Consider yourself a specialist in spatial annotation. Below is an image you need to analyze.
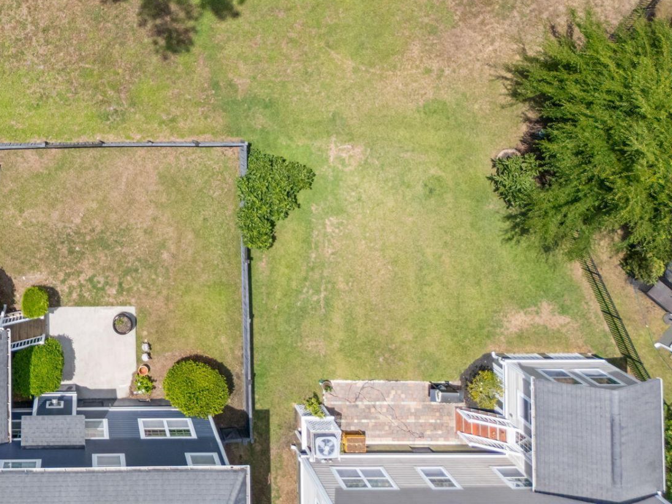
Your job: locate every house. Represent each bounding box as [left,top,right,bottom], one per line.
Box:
[285,343,672,504]
[0,312,250,504]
